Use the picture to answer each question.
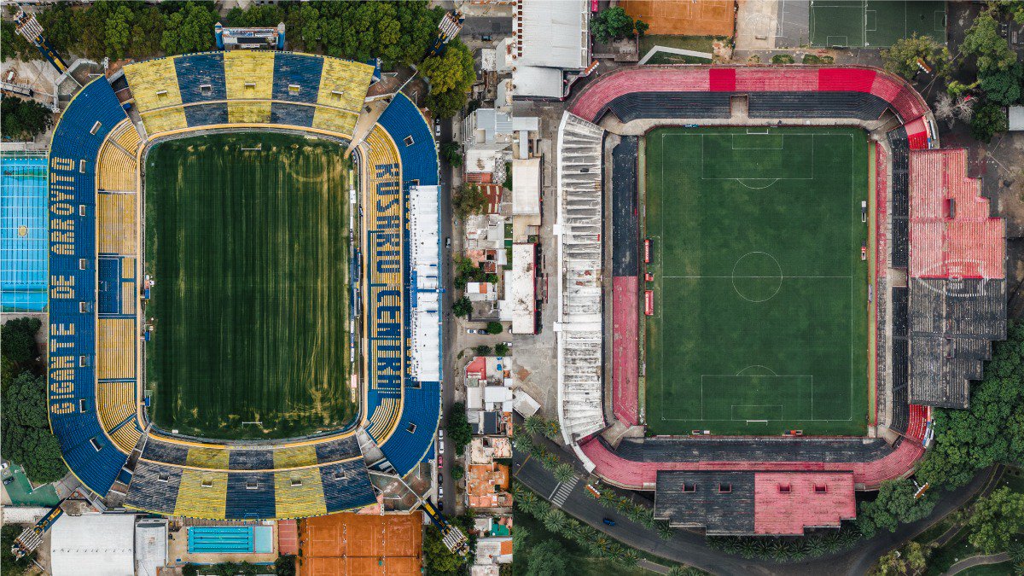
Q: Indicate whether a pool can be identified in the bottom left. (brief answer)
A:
Yes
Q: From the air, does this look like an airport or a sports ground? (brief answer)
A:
sports ground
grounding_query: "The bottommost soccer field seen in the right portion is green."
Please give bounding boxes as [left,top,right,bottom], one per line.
[646,126,869,436]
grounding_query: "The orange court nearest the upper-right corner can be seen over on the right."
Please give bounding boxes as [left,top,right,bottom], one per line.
[696,0,735,35]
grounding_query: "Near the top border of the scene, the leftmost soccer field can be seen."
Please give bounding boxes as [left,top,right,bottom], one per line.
[810,0,863,47]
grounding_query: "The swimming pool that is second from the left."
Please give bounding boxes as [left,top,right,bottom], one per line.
[187,526,255,554]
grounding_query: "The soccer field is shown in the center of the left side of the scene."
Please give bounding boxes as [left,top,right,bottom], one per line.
[145,133,359,439]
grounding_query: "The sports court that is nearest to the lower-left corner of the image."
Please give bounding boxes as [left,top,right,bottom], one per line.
[0,461,56,506]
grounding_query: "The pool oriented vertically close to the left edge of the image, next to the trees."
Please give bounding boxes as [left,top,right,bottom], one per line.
[0,158,48,311]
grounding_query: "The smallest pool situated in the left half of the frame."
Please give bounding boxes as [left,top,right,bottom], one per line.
[255,526,273,553]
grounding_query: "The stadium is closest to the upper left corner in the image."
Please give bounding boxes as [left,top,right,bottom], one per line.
[44,49,446,521]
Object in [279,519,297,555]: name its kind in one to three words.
sports court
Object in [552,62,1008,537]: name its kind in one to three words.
stadium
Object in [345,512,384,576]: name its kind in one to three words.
tennis court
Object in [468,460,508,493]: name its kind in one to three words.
house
